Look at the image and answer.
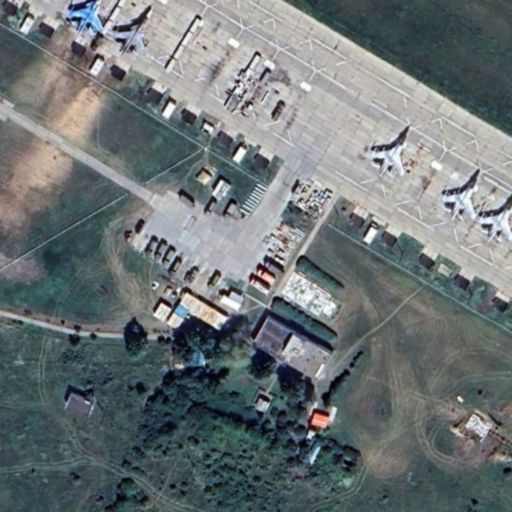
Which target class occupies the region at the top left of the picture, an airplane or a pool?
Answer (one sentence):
There is an airplane at the top left of the picture.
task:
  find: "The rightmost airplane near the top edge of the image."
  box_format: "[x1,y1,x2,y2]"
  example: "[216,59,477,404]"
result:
[113,9,153,63]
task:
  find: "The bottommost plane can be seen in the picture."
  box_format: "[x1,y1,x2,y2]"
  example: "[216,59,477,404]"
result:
[479,203,512,247]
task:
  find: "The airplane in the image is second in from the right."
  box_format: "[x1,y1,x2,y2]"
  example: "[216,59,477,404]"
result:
[443,170,483,225]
